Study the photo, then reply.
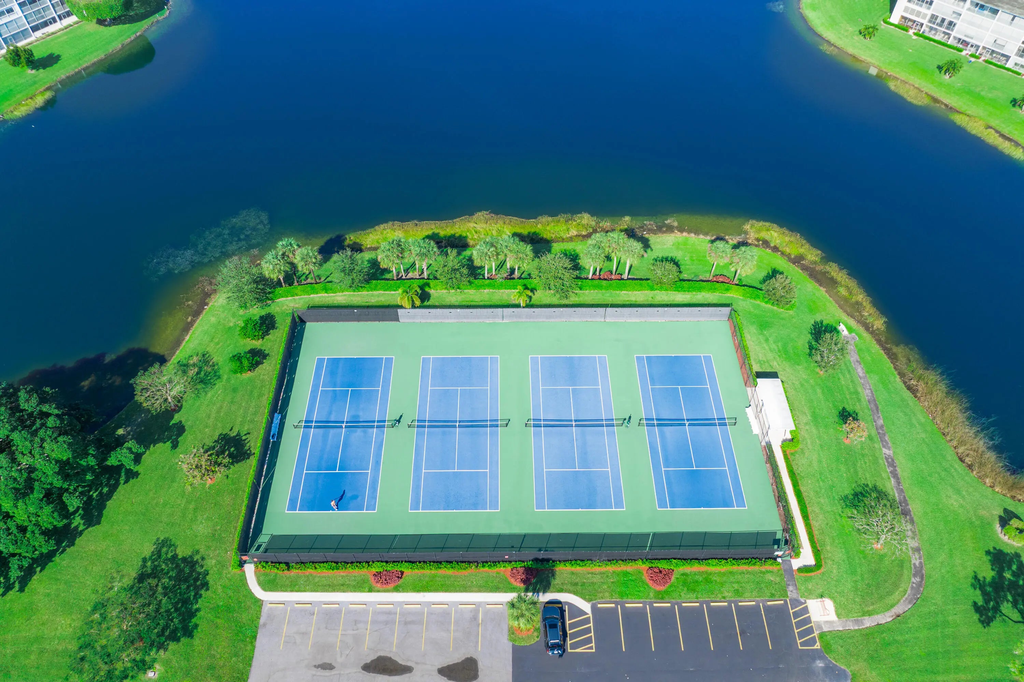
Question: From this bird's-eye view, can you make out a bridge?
No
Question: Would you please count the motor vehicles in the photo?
1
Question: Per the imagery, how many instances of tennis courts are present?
4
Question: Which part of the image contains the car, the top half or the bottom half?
bottom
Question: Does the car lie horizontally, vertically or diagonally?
vertically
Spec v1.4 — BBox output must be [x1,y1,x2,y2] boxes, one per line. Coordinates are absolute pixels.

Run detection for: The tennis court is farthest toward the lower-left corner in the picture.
[285,356,394,513]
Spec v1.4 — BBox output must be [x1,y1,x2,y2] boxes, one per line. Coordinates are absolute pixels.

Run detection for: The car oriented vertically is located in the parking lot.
[542,608,563,655]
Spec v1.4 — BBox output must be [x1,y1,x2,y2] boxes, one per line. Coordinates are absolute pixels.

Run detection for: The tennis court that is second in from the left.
[409,356,499,512]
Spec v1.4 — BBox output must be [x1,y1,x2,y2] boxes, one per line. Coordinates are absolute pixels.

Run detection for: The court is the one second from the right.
[530,355,625,510]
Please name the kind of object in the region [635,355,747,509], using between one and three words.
tennis court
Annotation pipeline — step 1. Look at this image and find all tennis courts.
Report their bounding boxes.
[409,356,499,512]
[285,356,394,513]
[530,355,625,510]
[635,355,747,509]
